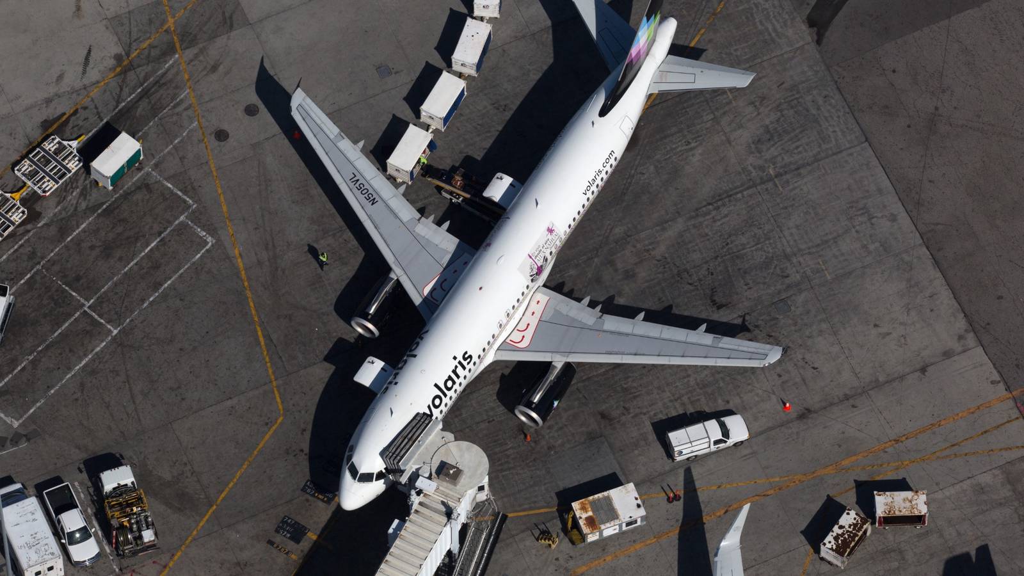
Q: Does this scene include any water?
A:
No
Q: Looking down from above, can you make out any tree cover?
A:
No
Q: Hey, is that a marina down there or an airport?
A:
airport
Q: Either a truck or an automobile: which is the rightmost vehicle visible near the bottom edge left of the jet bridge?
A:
truck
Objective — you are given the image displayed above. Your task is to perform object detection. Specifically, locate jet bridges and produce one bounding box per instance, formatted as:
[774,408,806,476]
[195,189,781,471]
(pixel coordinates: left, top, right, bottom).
[373,412,492,576]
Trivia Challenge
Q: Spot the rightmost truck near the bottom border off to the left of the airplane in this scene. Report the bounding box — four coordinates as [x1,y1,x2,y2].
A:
[92,461,159,568]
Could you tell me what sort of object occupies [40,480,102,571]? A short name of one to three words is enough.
truck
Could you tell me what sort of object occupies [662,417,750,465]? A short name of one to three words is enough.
truck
